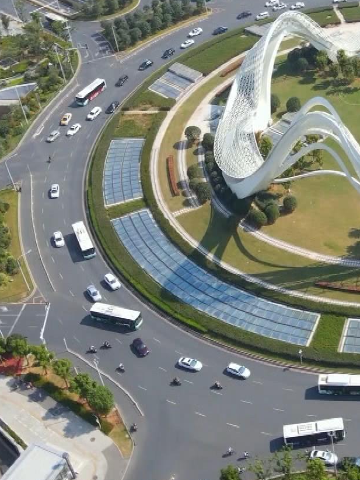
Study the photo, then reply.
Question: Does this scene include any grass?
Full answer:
Yes, grass can be seen from above here.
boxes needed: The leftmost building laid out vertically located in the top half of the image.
[207,105,224,138]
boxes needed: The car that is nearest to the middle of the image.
[103,273,119,290]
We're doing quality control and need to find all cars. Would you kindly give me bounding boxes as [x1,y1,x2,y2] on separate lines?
[181,38,195,47]
[310,452,338,466]
[50,184,60,198]
[255,10,269,19]
[265,0,279,7]
[68,125,80,136]
[337,456,360,469]
[162,48,176,57]
[107,102,119,112]
[47,130,59,141]
[60,114,72,125]
[213,25,228,34]
[188,26,202,36]
[84,285,101,302]
[177,356,201,372]
[88,107,100,118]
[53,232,63,246]
[225,362,251,377]
[272,1,287,10]
[116,75,129,85]
[103,273,119,290]
[236,11,252,19]
[129,339,151,355]
[291,0,305,9]
[139,59,153,69]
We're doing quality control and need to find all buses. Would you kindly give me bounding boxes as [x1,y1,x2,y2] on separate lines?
[71,79,107,106]
[282,418,348,447]
[317,374,360,396]
[89,304,144,330]
[72,221,96,258]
